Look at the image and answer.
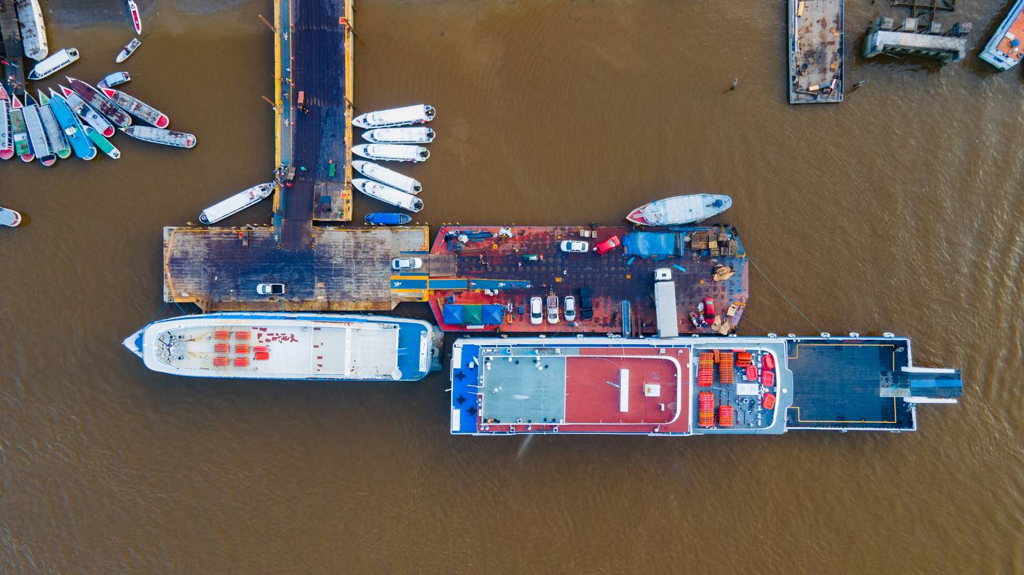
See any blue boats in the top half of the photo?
Yes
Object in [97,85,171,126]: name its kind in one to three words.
boat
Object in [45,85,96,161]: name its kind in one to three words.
boat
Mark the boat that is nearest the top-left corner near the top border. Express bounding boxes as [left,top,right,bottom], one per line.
[19,0,51,61]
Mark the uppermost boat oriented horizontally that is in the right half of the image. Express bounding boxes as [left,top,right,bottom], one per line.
[627,192,731,224]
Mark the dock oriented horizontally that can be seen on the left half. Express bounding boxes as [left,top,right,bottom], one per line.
[164,226,429,310]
